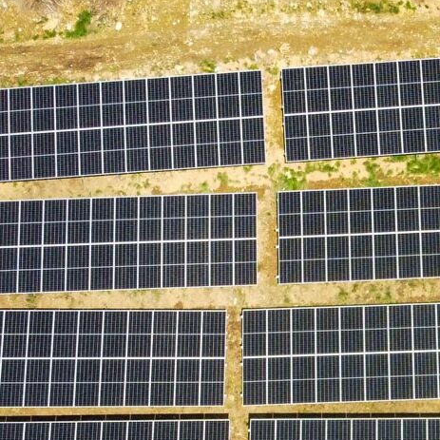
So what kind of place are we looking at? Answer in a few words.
solar farm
